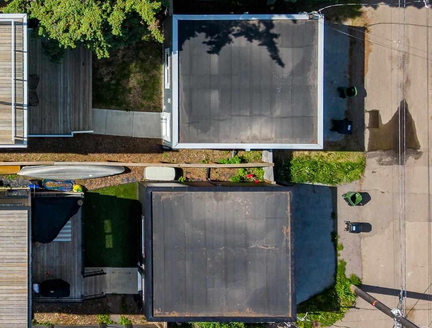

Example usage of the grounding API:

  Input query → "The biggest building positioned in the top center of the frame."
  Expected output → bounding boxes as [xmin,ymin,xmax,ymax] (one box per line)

[162,15,328,149]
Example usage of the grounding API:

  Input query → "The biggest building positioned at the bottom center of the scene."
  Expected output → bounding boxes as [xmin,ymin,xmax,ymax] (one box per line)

[136,182,297,321]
